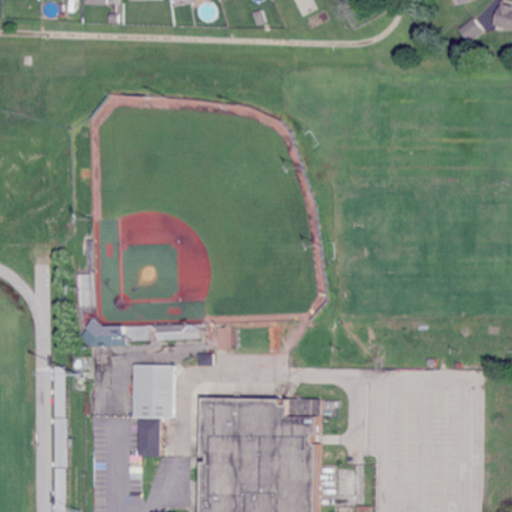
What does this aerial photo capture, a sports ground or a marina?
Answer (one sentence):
What you see here is a sports ground.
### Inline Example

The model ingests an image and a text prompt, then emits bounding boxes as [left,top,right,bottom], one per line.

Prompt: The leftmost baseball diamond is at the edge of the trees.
[91,96,326,328]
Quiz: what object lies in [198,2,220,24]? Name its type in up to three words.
swimming pool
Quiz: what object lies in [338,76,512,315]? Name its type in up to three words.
soccer field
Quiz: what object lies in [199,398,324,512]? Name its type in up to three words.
building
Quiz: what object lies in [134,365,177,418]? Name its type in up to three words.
building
